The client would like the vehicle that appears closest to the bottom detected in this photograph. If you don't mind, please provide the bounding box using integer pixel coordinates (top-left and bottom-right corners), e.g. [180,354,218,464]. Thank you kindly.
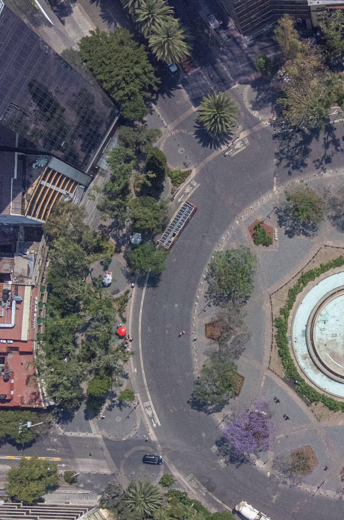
[229,500,276,520]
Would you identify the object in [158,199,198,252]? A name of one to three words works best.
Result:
bus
